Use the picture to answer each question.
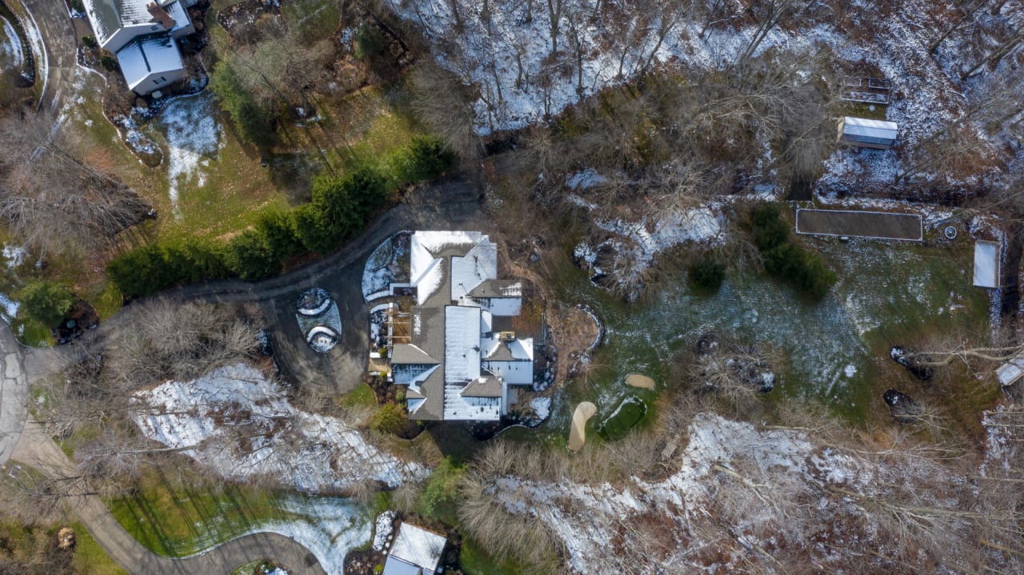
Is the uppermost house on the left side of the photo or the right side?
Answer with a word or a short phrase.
left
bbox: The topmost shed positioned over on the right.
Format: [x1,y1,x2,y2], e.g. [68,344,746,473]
[843,118,907,147]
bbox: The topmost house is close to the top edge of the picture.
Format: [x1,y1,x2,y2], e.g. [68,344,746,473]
[81,0,197,92]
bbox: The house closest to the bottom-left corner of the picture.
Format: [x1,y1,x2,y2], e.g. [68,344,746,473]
[383,514,448,575]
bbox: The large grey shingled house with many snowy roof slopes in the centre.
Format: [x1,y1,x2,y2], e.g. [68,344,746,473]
[391,231,533,420]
